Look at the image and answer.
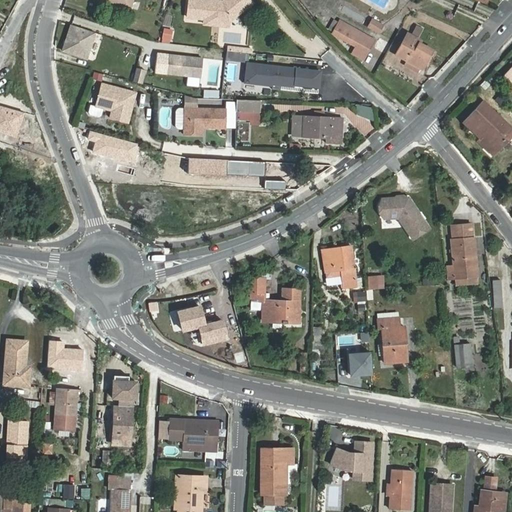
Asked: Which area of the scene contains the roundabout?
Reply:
left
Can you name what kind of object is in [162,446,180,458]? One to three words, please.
swimming pool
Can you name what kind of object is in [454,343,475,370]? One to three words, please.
building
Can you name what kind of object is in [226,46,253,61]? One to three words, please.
shed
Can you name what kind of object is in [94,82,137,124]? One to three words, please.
house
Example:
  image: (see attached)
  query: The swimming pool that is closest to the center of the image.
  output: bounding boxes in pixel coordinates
[336,335,356,347]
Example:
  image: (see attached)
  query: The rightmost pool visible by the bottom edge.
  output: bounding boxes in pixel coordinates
[328,484,342,509]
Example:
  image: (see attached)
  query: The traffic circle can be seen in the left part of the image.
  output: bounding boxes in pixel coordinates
[68,230,144,307]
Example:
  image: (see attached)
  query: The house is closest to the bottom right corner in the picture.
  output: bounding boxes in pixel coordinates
[474,476,509,512]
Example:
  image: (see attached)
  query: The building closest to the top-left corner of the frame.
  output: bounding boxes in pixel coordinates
[62,24,96,59]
